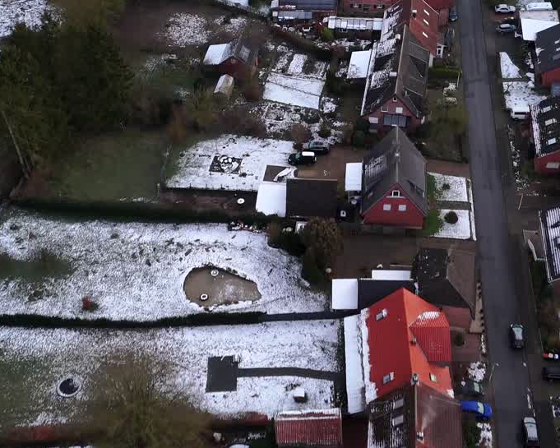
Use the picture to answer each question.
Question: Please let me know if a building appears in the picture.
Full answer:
Yes, a building can be made out from above.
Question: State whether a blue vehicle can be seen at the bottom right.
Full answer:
Yes, at the bottom right there is a blue vehicle.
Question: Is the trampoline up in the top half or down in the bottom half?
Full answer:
Seen from above, the trampoline lies in the bottom half of the view.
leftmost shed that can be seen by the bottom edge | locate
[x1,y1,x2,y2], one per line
[276,405,343,448]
